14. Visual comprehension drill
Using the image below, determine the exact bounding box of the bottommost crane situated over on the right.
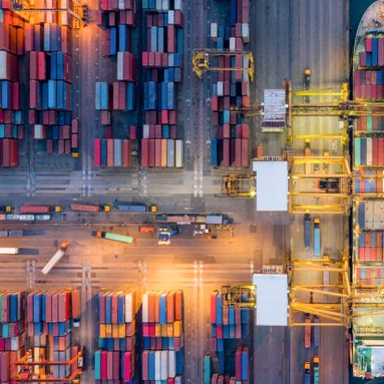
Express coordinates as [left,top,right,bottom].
[221,245,384,325]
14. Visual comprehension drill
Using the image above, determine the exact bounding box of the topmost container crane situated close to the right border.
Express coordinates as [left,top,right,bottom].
[231,81,384,151]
